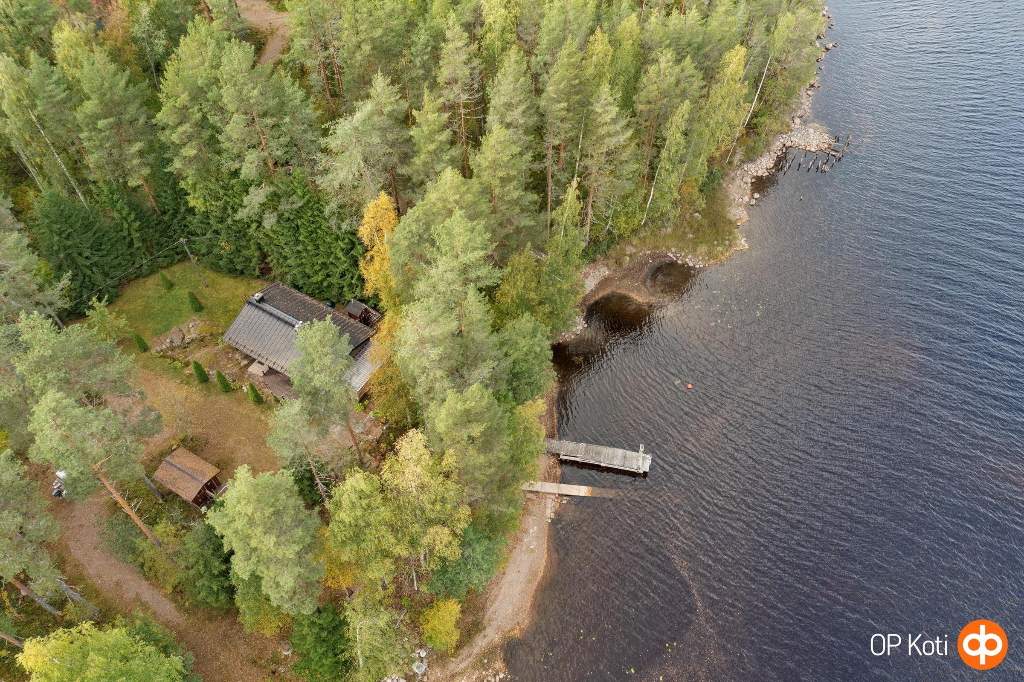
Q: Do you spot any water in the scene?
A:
Yes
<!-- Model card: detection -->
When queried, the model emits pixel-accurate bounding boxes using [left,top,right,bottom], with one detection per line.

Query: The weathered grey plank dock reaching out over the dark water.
[543,441,653,478]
